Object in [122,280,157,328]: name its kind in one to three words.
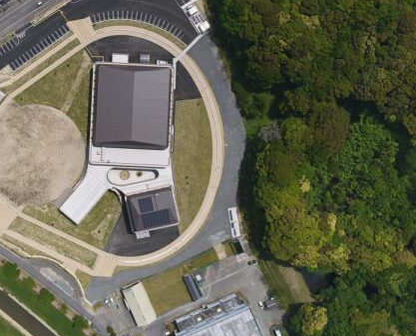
building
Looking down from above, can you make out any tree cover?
Yes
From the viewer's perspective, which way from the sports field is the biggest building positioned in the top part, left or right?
to the right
